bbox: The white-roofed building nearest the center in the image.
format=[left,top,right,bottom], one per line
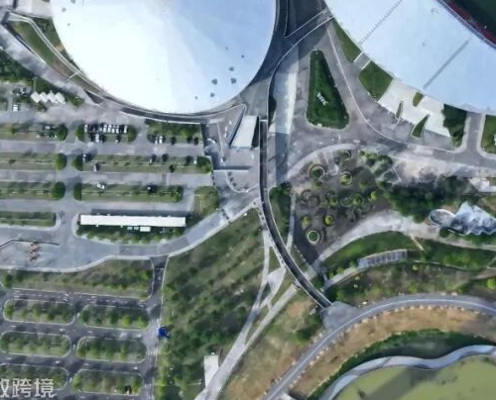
[230,116,258,148]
